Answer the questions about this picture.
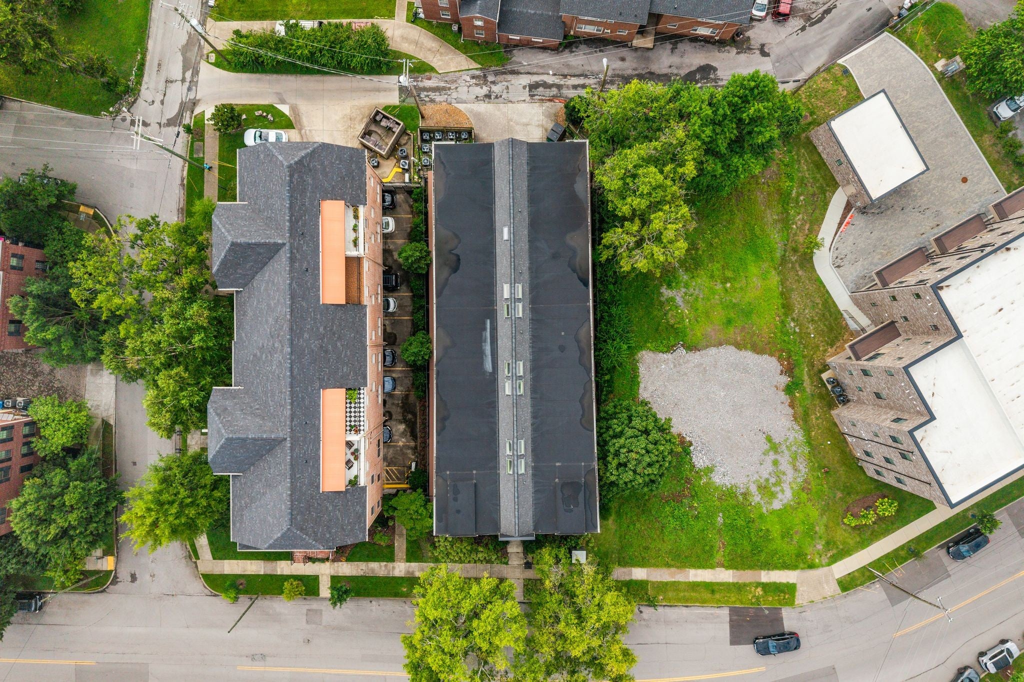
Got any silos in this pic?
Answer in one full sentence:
No, no silo is visible in the scene.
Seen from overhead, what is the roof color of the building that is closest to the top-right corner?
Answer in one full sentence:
The roof over the building that is closest to the top-right corner appears white.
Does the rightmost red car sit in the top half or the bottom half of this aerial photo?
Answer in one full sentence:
The rightmost red car sits in the top half of the picture.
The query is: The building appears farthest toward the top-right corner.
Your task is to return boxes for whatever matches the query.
[809,89,930,209]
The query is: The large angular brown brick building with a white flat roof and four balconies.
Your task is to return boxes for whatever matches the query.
[827,180,1024,509]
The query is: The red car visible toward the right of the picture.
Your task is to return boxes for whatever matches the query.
[771,0,795,23]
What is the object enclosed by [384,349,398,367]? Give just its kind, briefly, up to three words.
car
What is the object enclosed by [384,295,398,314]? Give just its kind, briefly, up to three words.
car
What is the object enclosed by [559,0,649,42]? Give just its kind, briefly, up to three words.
house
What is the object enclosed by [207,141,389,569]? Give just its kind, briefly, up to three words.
building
